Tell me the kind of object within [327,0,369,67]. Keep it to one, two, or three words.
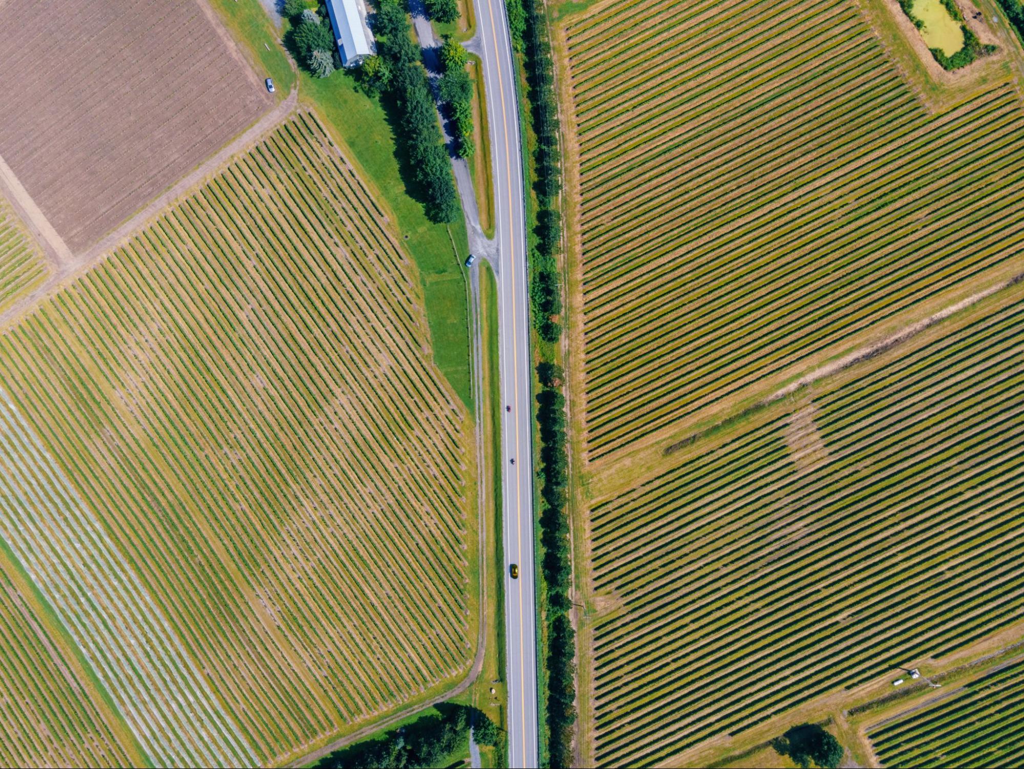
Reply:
barn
